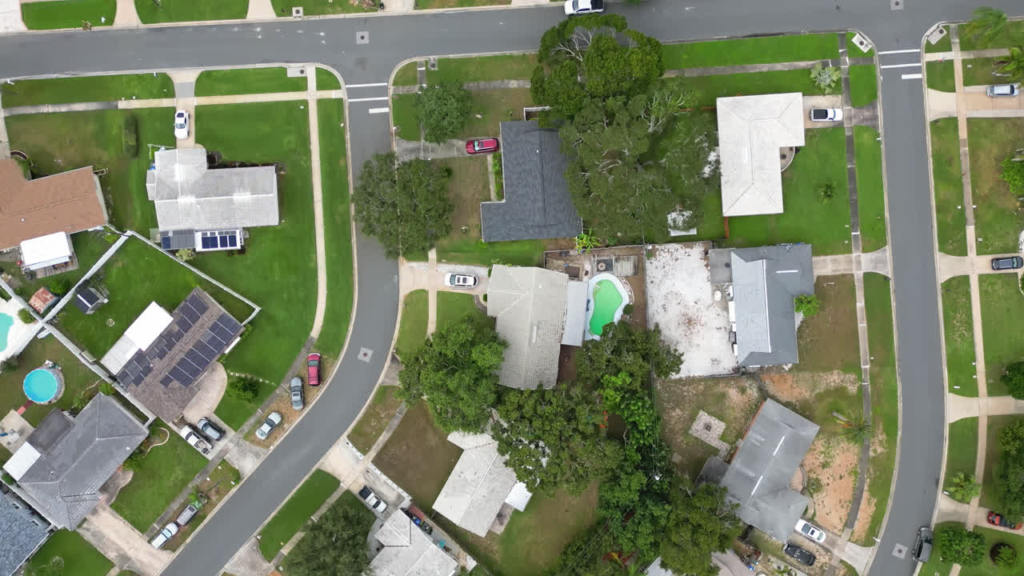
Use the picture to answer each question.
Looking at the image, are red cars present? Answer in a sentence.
Yes, you can see a red car in this photo.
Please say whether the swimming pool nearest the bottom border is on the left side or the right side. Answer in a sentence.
You can find the swimming pool nearest the bottom border on the left side of the picture.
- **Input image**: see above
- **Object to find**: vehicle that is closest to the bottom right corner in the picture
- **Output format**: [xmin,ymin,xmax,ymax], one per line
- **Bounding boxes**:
[984,511,1021,530]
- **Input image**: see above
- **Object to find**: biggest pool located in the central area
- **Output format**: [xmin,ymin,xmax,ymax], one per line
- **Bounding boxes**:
[582,272,629,344]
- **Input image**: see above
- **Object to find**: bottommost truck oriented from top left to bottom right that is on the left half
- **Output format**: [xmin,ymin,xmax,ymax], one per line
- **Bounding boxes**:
[356,483,388,516]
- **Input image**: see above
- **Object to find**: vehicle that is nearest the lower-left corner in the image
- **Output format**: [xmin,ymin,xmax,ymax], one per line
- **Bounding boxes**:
[147,521,180,552]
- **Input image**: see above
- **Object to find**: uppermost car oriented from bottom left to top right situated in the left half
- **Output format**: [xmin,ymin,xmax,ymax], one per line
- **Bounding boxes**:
[255,411,282,440]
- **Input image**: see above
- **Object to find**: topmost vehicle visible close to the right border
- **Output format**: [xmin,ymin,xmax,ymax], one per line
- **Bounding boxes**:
[985,82,1018,98]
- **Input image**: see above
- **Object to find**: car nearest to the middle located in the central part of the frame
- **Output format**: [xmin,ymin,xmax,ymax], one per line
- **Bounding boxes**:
[446,273,478,288]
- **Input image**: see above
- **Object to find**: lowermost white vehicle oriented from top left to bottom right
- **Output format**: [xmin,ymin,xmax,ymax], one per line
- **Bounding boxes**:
[795,518,828,544]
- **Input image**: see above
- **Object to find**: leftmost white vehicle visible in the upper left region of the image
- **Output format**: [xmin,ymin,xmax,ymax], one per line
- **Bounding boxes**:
[173,109,190,140]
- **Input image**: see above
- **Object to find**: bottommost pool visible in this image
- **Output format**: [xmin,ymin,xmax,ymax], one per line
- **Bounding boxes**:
[22,363,67,406]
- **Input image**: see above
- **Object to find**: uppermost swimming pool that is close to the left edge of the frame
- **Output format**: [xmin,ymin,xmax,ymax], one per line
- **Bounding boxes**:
[0,297,41,360]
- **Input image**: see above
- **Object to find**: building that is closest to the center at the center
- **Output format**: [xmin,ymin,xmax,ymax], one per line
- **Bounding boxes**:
[487,265,588,390]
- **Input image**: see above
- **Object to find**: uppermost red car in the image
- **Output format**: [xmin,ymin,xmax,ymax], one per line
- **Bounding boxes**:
[466,137,499,153]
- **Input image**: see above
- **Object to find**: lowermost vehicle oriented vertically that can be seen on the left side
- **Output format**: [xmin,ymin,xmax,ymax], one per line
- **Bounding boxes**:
[288,377,305,410]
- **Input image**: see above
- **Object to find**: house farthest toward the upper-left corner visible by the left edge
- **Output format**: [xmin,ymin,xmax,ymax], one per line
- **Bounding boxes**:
[0,158,113,270]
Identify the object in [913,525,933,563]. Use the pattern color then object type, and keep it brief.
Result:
gray car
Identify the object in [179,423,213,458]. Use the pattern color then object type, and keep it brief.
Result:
white truck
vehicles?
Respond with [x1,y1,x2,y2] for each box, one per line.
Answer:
[985,82,1018,98]
[147,521,180,552]
[466,137,499,153]
[781,541,817,568]
[913,525,933,563]
[446,273,478,288]
[984,511,1021,530]
[197,416,224,444]
[174,503,200,527]
[991,254,1024,269]
[795,518,828,544]
[179,423,213,458]
[173,109,190,140]
[356,483,388,516]
[255,411,282,440]
[565,0,605,14]
[808,106,844,122]
[288,377,305,410]
[305,353,321,386]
